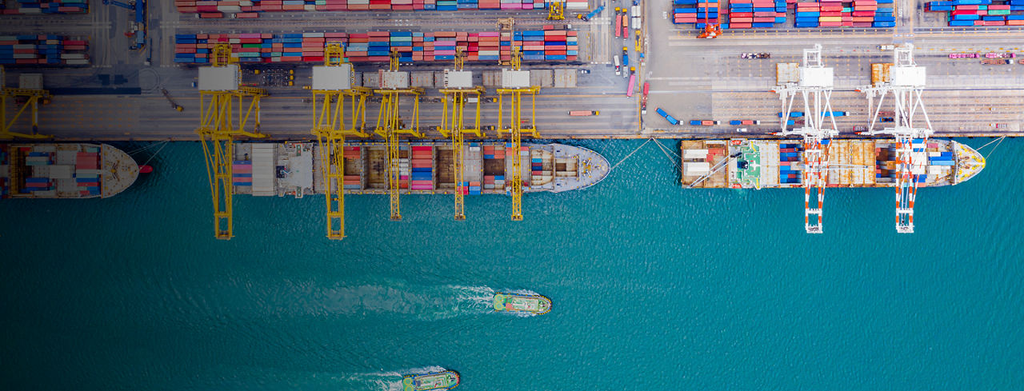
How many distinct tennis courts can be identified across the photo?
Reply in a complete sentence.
No tennis courts are visible.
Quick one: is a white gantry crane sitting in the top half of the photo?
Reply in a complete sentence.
Yes, looking in the top half of the photo, one can make out a white gantry crane.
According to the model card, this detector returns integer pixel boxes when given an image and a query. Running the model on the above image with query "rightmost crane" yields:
[851,38,929,233]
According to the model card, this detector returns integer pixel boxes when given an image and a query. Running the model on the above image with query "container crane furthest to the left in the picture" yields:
[0,65,45,151]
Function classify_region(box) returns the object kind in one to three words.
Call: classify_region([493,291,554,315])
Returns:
boat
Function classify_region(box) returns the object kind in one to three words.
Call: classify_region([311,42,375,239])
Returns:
container crane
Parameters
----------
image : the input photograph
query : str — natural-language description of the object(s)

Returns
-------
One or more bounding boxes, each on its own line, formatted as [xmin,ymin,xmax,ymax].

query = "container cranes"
[198,42,269,239]
[496,19,516,70]
[439,51,491,219]
[374,51,430,220]
[766,38,834,233]
[311,42,375,239]
[493,47,546,220]
[0,65,45,151]
[545,0,566,27]
[851,38,929,233]
[697,0,721,43]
